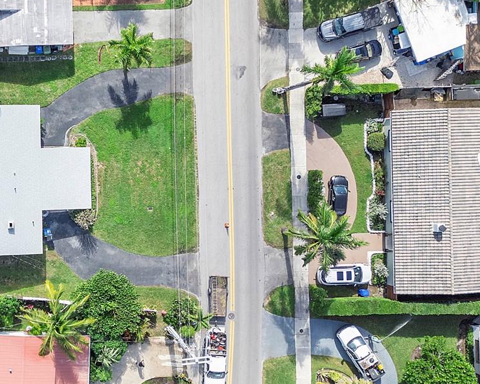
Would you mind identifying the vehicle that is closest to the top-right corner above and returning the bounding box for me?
[384,26,408,53]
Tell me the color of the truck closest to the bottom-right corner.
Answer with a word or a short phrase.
white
